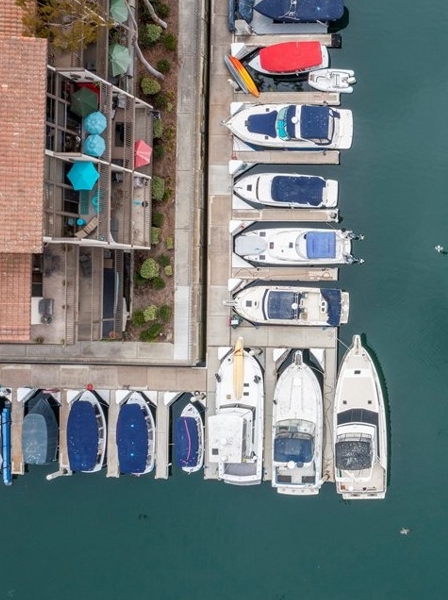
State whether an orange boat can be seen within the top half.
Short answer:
Yes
